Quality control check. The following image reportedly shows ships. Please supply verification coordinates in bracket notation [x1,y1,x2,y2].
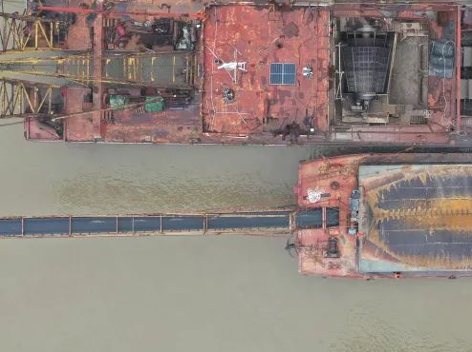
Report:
[0,153,472,278]
[0,0,472,149]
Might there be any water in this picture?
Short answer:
Yes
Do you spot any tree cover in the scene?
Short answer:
No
